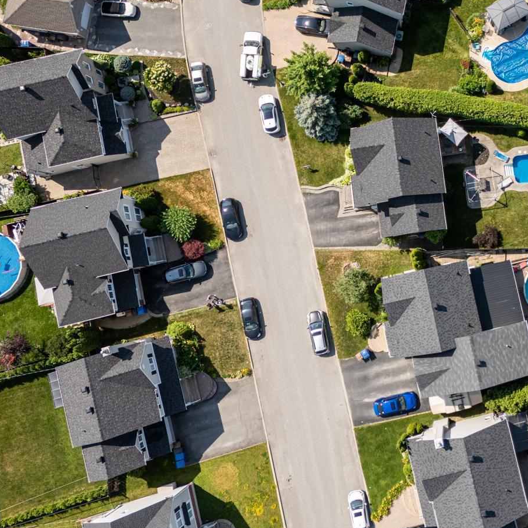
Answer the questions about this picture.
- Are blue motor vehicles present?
Yes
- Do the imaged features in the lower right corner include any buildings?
Yes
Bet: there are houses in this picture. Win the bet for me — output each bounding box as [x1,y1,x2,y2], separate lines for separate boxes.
[312,0,407,55]
[343,116,447,239]
[19,187,170,328]
[3,0,95,35]
[82,471,235,528]
[403,410,528,528]
[0,50,137,177]
[370,257,528,399]
[48,326,216,483]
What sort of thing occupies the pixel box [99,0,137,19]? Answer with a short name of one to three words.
car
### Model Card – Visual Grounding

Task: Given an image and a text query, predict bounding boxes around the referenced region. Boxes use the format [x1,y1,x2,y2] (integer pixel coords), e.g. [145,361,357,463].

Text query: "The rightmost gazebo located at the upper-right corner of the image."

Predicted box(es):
[485,0,528,35]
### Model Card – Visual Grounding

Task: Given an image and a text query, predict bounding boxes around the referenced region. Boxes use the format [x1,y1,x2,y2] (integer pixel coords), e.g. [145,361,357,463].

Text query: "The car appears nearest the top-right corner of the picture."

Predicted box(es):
[293,16,329,35]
